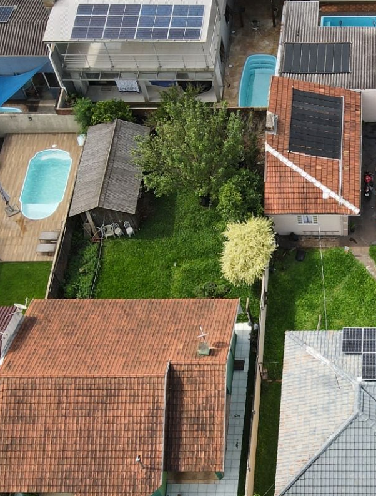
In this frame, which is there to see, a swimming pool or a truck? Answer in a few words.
swimming pool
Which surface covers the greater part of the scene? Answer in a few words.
buildings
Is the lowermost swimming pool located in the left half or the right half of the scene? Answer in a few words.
left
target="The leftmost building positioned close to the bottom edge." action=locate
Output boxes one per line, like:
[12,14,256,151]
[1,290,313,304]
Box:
[0,298,241,496]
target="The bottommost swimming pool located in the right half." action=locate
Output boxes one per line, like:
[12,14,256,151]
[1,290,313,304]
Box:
[239,54,278,106]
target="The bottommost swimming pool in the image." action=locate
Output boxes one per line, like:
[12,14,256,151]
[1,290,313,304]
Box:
[20,149,73,219]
